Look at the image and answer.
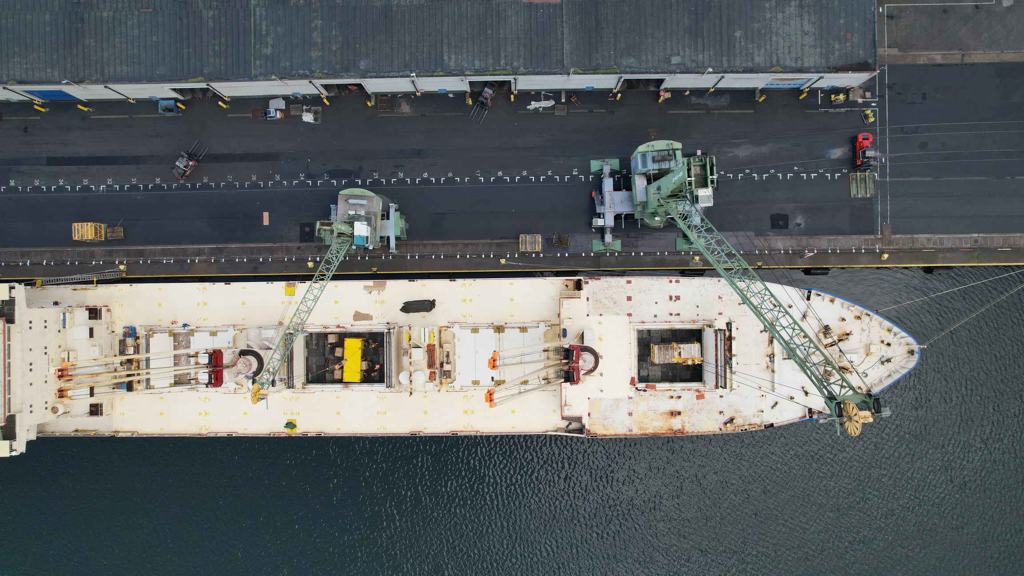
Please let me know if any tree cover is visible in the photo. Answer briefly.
No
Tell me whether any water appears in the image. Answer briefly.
Yes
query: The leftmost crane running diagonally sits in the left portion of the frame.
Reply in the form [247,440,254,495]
[244,188,407,409]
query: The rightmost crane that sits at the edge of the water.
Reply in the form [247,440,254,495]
[590,141,897,437]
